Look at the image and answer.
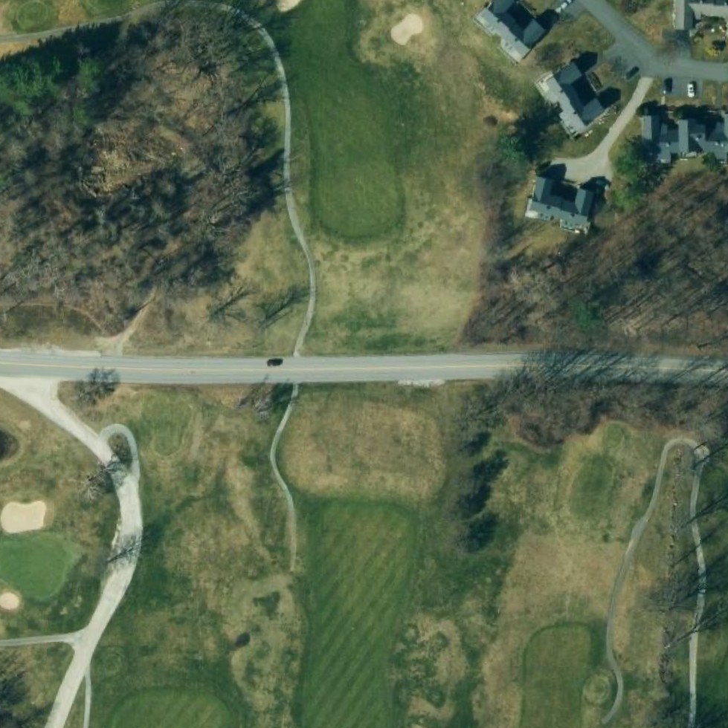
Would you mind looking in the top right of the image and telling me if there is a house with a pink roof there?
No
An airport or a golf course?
golf course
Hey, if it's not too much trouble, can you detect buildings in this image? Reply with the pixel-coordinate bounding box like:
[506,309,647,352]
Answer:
[526,174,596,235]
[535,53,608,138]
[642,111,728,163]
[673,0,728,29]
[474,0,549,65]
